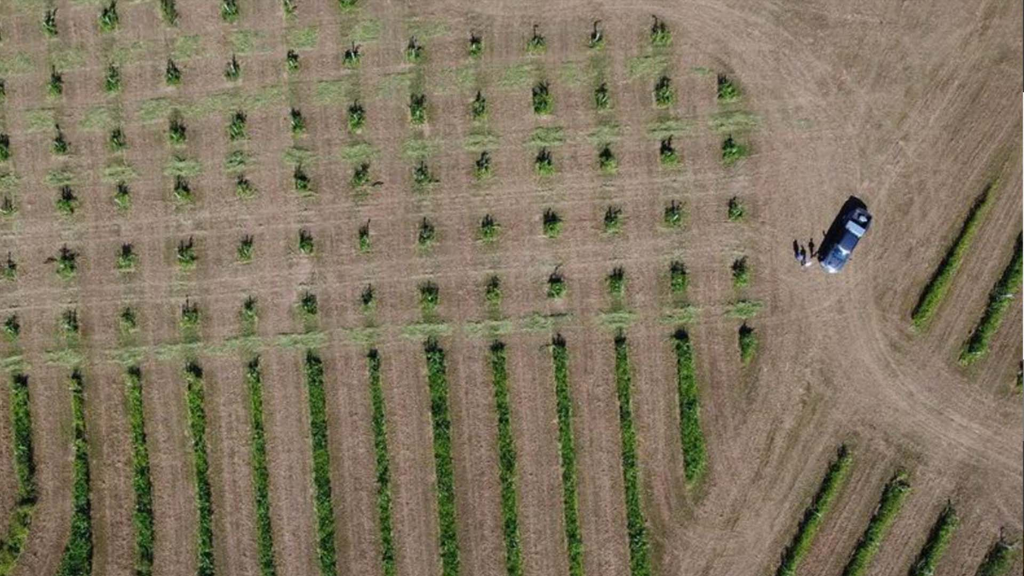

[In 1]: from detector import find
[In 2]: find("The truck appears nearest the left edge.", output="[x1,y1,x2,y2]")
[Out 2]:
[820,205,874,276]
